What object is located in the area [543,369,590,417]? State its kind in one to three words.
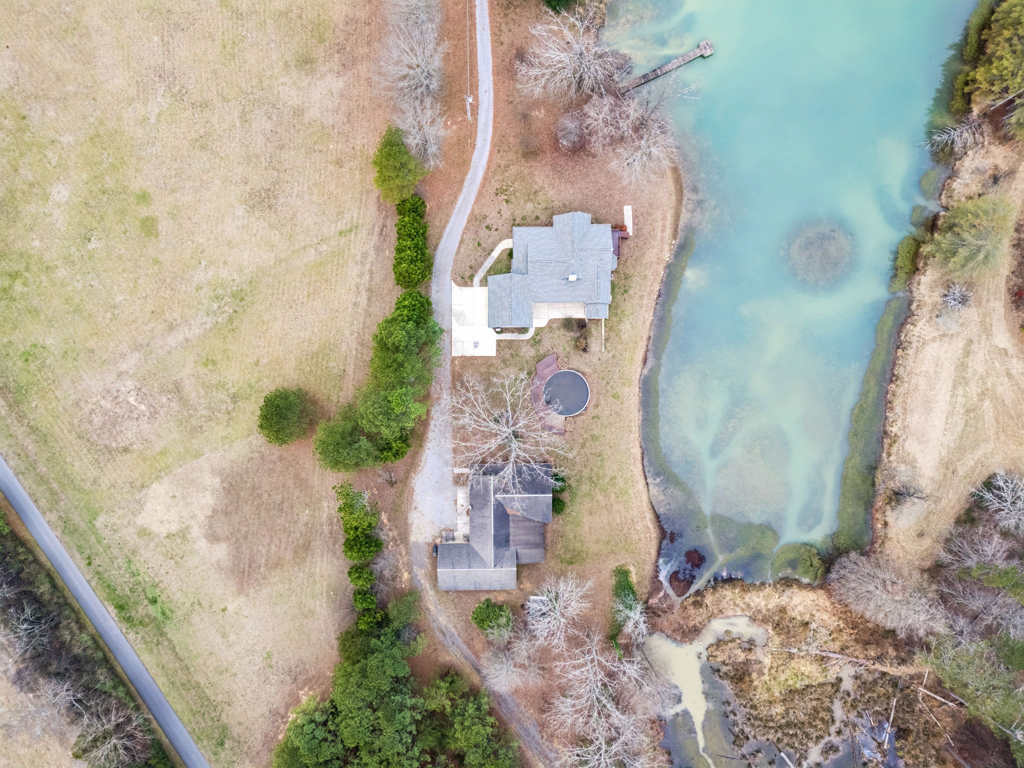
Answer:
swimming pool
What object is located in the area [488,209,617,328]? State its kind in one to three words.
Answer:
house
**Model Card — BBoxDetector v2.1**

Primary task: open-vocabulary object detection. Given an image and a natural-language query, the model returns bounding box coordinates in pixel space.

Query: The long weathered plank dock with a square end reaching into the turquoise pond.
[617,36,716,97]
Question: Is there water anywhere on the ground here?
Yes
